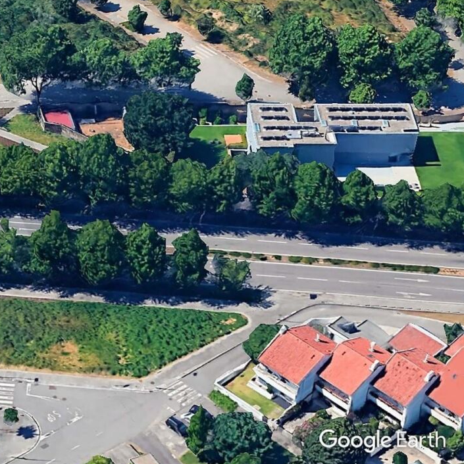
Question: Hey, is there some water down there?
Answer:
No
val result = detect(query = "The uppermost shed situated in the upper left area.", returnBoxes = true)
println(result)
[43,110,74,138]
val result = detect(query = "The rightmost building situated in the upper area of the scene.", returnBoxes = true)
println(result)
[244,103,420,174]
